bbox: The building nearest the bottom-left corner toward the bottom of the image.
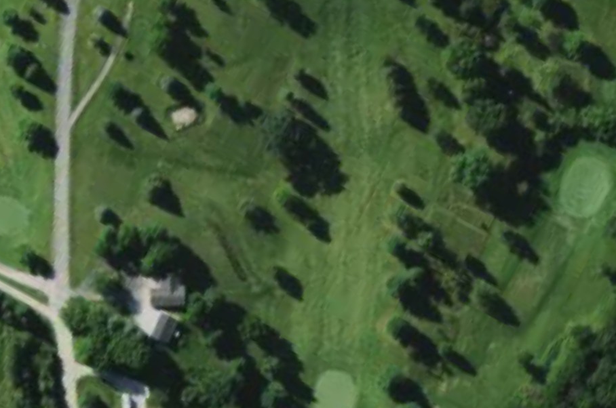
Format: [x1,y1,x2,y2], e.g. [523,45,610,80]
[151,309,178,344]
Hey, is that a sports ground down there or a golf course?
golf course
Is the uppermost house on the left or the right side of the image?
left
